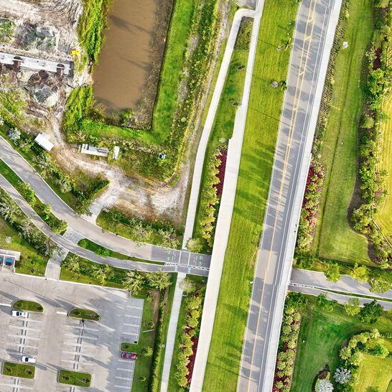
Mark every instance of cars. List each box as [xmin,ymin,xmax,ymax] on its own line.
[13,310,28,317]
[122,351,137,359]
[22,355,37,363]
